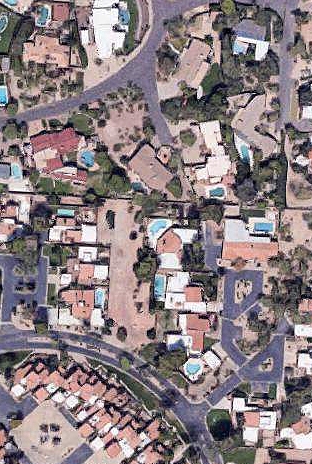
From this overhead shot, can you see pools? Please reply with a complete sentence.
Yes, looking at the shot, I can spot a pool.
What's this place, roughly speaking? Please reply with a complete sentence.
What you see here is a residential area.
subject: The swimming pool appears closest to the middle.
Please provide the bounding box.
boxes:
[147,218,172,239]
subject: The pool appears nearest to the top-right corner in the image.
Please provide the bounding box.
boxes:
[230,41,248,56]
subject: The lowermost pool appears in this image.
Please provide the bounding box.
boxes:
[182,358,204,379]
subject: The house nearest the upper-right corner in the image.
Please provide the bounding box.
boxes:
[231,18,268,60]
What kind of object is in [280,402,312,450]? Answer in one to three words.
house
